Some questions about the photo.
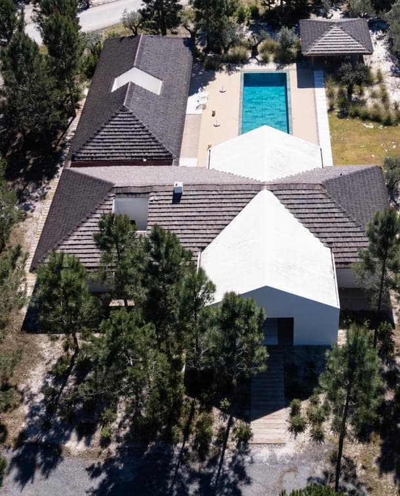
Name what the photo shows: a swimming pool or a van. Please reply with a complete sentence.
I can see a swimming pool in this picture.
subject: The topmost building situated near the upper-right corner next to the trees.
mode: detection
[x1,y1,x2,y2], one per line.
[298,17,375,77]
